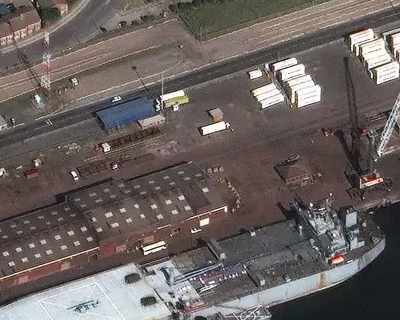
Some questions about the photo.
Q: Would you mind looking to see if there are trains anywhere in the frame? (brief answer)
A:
No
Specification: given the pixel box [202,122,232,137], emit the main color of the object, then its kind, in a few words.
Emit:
white vehicle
